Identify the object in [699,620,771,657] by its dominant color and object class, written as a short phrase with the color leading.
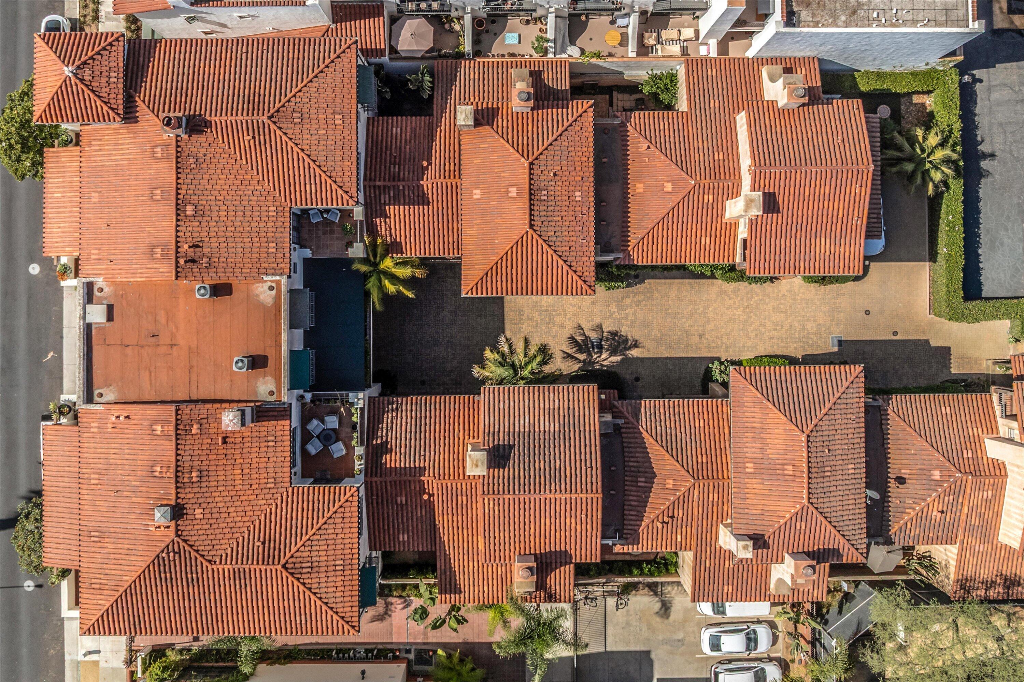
white car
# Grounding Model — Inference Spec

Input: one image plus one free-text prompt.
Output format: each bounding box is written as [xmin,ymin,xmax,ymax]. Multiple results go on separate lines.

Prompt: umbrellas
[865,540,904,575]
[391,19,434,58]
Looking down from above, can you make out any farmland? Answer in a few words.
No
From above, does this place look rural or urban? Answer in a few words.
urban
